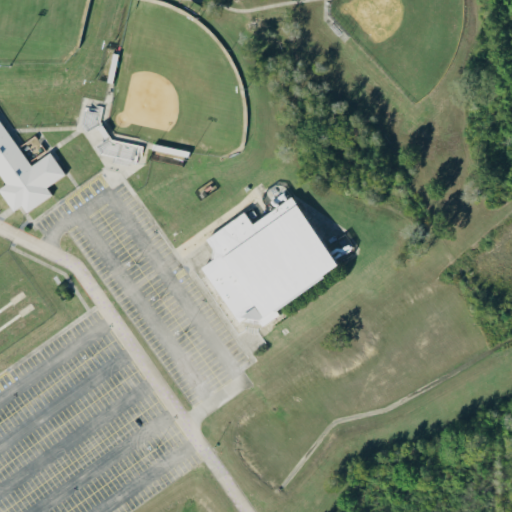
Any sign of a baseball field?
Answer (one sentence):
Yes, the photo shows a baseball field.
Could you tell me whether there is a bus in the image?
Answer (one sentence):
No, I find no bus anywhere in the image.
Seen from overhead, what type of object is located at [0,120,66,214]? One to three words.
building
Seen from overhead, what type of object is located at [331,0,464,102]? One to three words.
baseball field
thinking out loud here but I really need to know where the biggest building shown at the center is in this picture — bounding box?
[202,196,342,326]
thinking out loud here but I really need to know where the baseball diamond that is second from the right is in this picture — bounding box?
[110,0,248,161]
